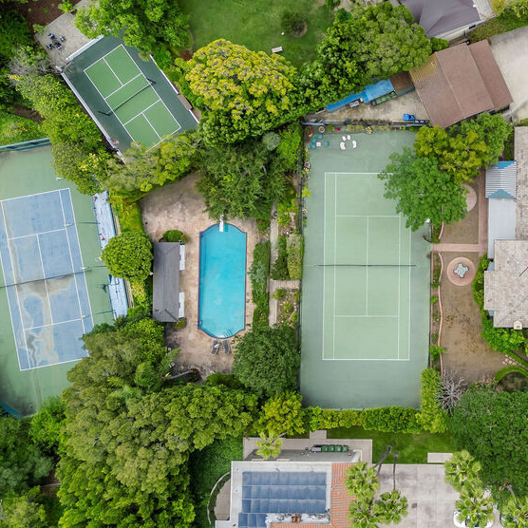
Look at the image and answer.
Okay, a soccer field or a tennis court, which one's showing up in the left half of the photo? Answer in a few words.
tennis court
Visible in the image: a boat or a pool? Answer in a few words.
pool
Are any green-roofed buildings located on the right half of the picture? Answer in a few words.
No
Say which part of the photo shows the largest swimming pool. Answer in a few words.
center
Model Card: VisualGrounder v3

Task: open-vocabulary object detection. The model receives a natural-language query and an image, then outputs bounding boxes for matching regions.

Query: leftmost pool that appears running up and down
[196,219,248,342]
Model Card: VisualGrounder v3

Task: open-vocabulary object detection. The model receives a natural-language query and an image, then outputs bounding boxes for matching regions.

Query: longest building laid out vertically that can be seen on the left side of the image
[153,241,185,323]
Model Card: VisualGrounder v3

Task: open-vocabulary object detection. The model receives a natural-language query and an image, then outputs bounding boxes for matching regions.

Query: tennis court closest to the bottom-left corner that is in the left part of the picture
[0,145,138,420]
